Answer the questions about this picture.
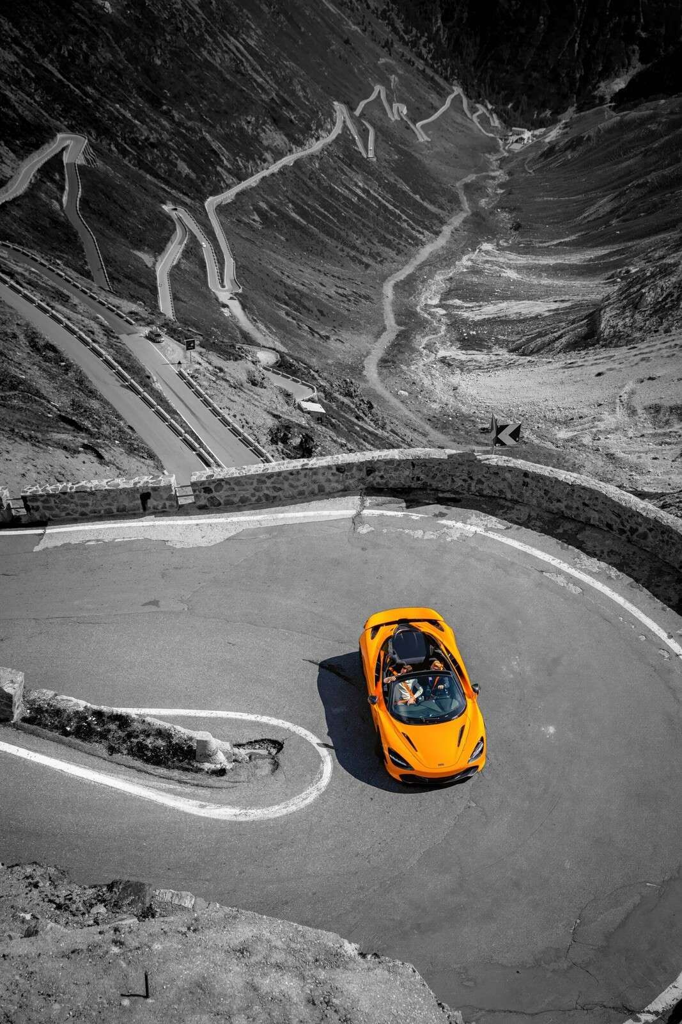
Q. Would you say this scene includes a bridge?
No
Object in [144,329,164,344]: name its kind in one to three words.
car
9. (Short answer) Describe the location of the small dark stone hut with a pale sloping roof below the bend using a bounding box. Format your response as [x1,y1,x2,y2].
[300,396,329,420]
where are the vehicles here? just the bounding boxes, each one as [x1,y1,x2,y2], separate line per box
[361,607,485,785]
[144,329,164,344]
